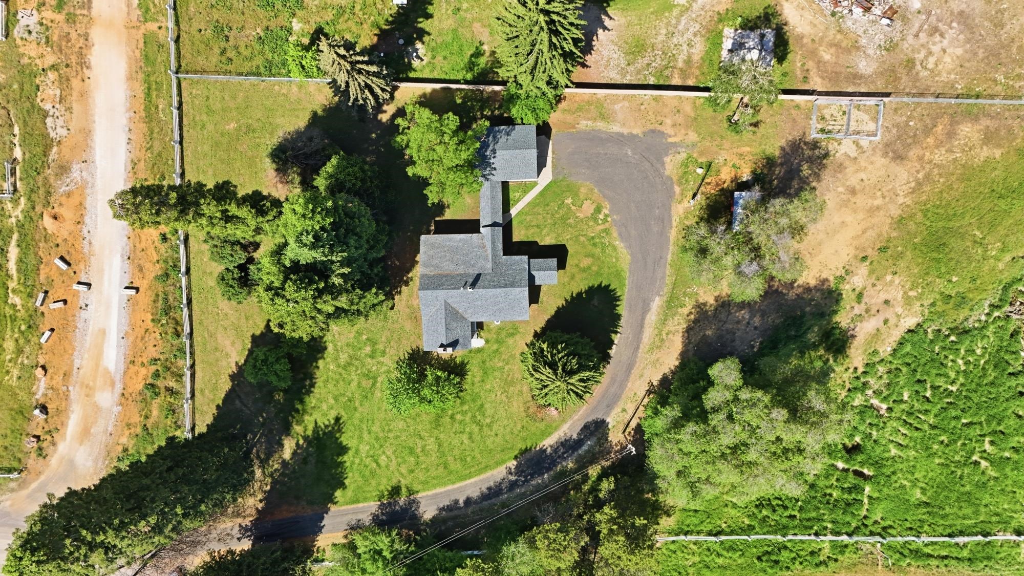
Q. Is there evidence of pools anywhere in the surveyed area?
No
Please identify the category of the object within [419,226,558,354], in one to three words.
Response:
house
